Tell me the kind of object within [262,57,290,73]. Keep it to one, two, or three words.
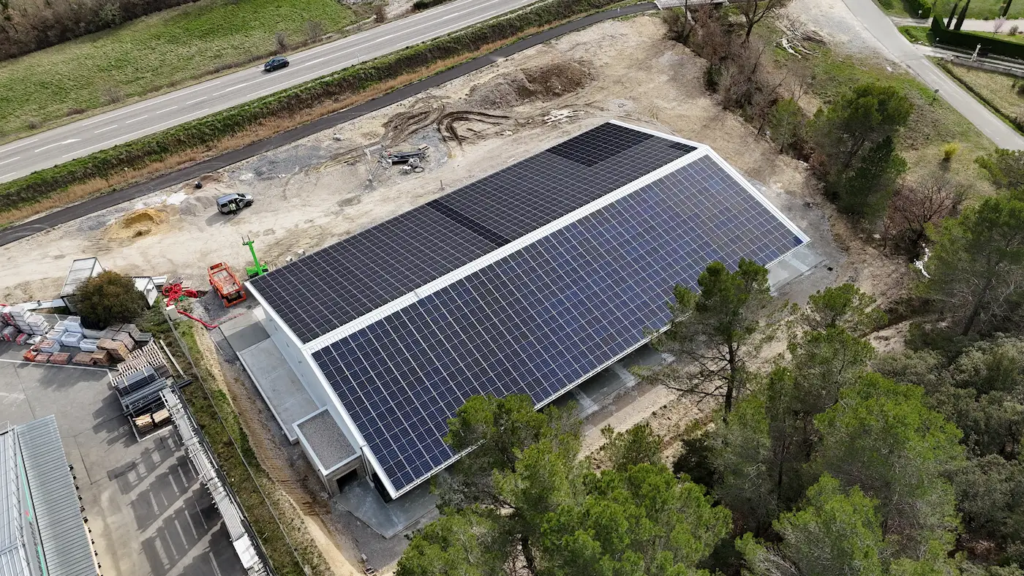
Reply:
car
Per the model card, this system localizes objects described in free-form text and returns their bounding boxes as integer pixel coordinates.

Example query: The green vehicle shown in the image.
[239,237,273,278]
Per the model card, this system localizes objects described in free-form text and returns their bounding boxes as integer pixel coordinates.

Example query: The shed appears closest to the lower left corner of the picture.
[0,416,114,576]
